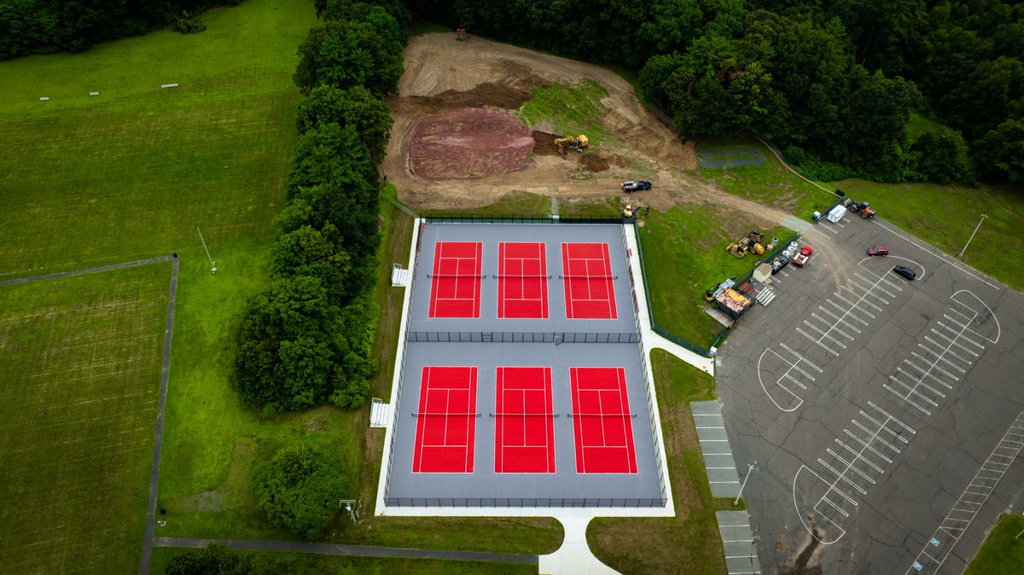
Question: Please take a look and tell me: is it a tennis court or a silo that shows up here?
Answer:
tennis court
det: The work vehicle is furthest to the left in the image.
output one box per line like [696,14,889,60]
[552,137,589,156]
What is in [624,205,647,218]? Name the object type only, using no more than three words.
vehicle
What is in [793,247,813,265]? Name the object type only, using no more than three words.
vehicle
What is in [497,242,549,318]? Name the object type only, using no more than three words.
tennis court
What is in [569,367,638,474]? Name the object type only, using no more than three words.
tennis court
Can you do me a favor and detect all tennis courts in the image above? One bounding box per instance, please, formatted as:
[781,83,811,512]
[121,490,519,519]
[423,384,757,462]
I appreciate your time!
[561,242,618,319]
[412,367,478,473]
[494,367,556,473]
[497,242,549,318]
[569,367,638,474]
[428,242,483,318]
